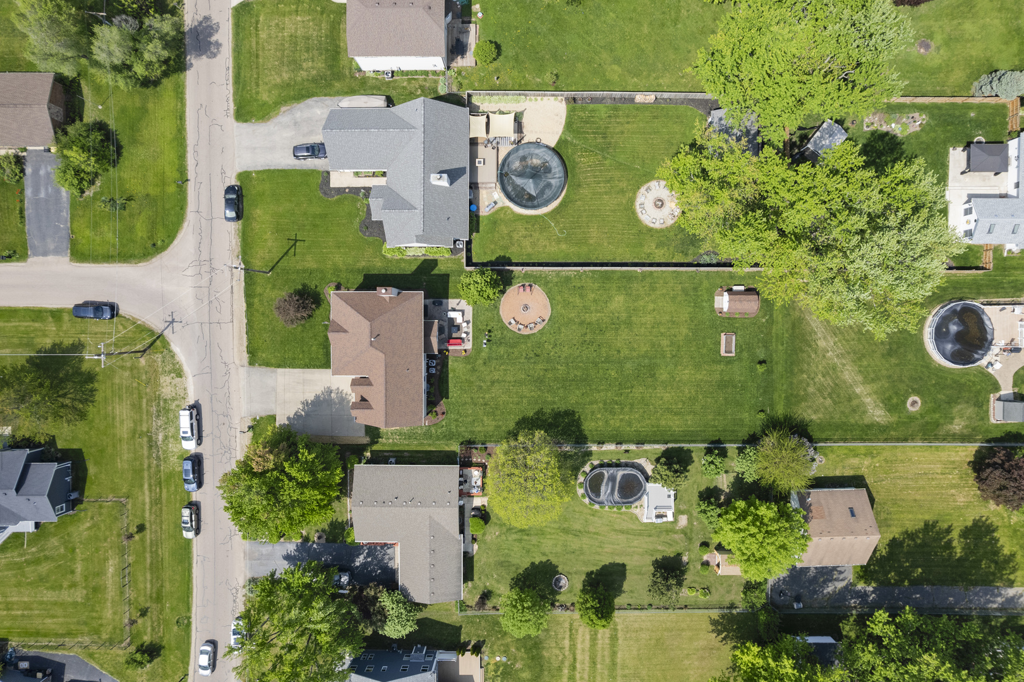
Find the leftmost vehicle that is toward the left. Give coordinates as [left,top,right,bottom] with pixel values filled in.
[72,301,120,320]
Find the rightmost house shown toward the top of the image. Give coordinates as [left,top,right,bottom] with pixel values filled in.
[961,130,1024,266]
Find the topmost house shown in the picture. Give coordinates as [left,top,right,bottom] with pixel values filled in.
[345,0,445,69]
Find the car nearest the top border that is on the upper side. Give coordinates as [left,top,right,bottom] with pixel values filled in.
[293,142,328,160]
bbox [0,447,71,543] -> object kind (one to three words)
house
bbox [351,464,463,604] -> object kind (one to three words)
house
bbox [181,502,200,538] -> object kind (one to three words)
car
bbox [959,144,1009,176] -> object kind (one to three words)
gazebo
